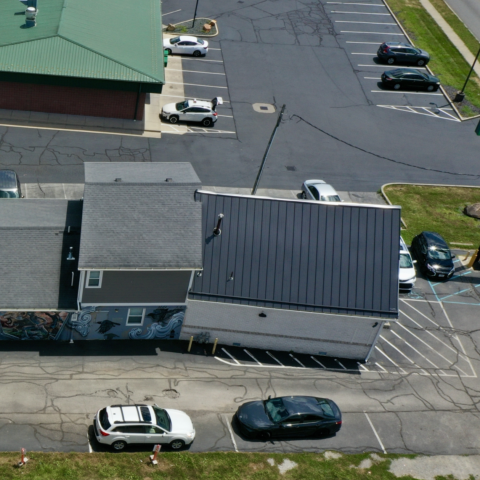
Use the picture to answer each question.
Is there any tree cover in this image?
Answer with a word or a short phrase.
No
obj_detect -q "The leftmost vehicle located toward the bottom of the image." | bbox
[93,402,199,450]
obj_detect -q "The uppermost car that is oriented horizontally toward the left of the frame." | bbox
[164,34,211,56]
